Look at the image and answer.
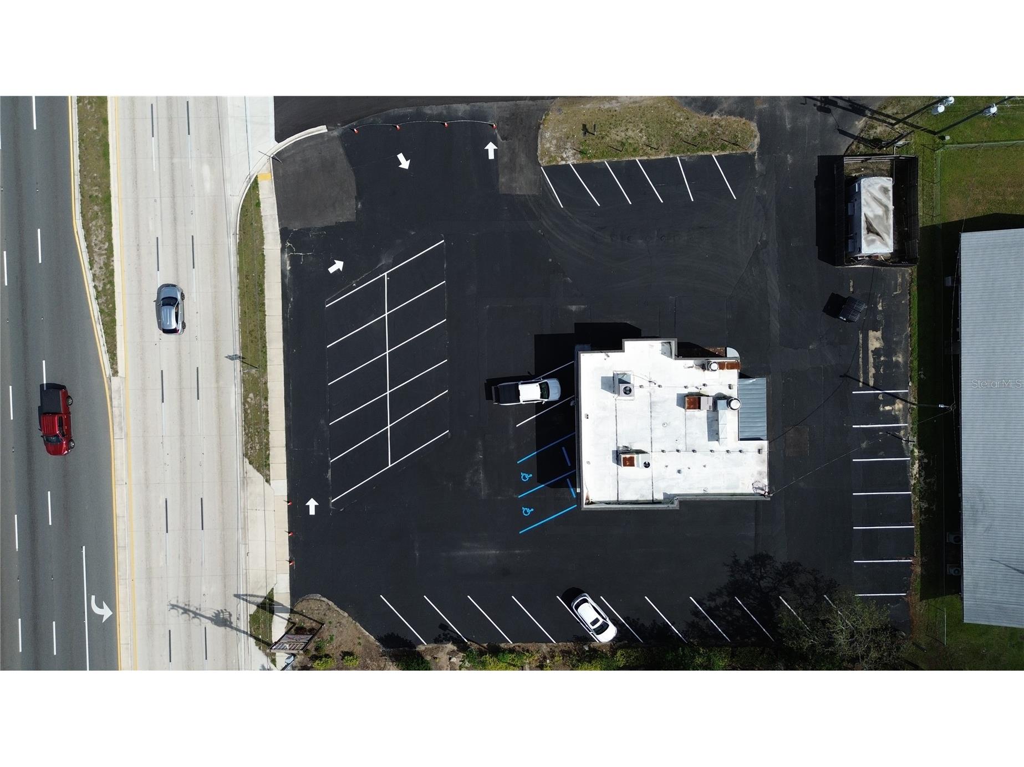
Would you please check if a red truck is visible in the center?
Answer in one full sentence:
No, I see no red truck in the center.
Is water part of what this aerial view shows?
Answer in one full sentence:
No, there's no water in this view.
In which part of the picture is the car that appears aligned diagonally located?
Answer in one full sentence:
The car that appears aligned diagonally is in the bottom part of the image.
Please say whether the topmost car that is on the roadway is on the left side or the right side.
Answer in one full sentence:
The topmost car that is on the roadway is on the left side of the image.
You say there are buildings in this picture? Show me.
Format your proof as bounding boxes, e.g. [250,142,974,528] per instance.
[574,339,769,510]
[957,228,1024,629]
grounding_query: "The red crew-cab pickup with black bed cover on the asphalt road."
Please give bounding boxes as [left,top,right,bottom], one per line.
[41,389,76,456]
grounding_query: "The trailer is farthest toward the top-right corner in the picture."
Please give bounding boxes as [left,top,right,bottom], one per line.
[847,150,895,256]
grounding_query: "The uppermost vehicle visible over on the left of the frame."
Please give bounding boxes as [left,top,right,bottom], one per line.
[155,284,186,336]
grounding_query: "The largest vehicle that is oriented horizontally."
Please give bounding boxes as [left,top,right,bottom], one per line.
[490,377,562,405]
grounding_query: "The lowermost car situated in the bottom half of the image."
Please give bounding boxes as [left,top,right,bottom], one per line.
[572,592,617,644]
